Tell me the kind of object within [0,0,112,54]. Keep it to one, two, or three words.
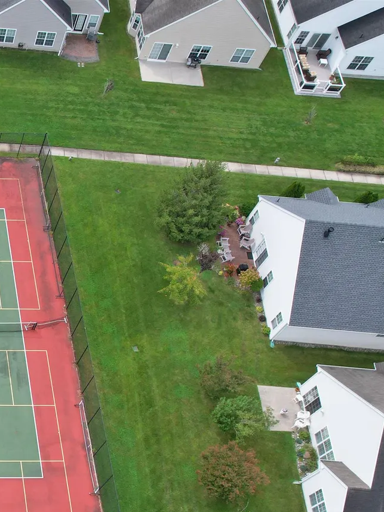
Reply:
house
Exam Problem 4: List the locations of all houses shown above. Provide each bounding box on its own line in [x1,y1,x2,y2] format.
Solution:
[0,0,112,54]
[275,0,384,83]
[294,364,384,512]
[247,171,384,349]
[125,0,279,69]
